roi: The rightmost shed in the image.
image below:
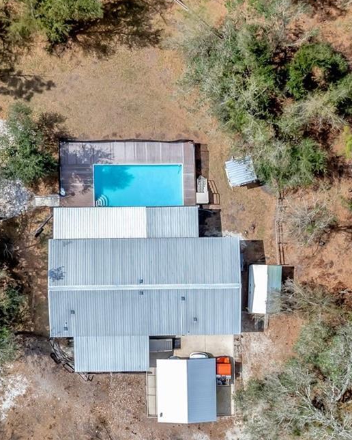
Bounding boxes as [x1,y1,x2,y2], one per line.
[246,265,283,313]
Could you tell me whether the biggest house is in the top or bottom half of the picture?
bottom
